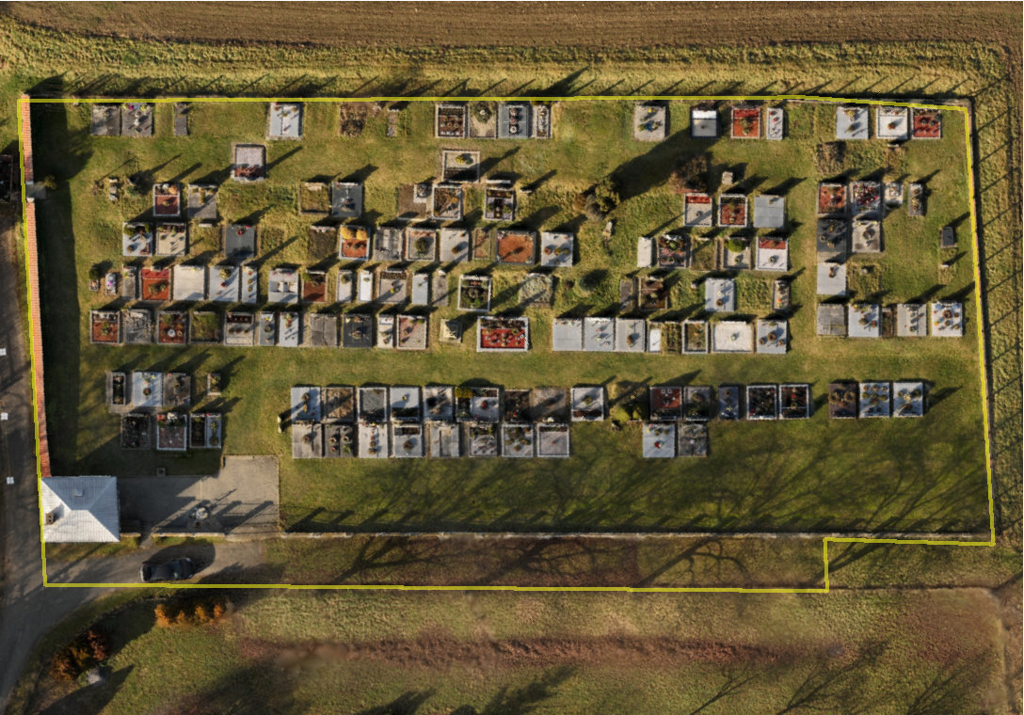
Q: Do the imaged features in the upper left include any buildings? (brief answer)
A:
No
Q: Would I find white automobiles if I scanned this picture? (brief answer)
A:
No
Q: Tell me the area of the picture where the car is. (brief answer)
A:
bottom left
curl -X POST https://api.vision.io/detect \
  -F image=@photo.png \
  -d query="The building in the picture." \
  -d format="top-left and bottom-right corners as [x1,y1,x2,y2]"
[38,476,116,544]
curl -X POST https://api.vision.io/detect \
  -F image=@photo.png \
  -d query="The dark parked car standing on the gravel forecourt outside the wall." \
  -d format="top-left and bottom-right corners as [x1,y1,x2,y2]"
[139,557,194,583]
